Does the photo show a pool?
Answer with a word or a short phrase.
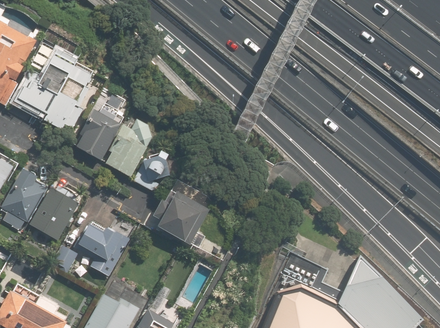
Yes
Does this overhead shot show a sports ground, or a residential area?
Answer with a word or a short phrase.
residential area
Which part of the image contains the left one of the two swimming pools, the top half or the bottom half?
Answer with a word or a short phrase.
top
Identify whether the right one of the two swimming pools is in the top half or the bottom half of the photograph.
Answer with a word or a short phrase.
bottom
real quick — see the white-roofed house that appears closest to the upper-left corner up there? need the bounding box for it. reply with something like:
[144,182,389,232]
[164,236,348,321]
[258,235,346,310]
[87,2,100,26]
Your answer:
[15,44,93,127]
